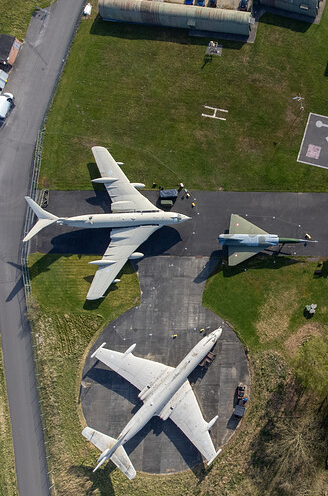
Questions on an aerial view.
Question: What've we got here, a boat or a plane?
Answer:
plane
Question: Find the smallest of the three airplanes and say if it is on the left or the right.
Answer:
right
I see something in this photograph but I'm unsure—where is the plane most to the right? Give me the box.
[215,215,311,267]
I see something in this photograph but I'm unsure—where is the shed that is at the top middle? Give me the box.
[98,0,253,35]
